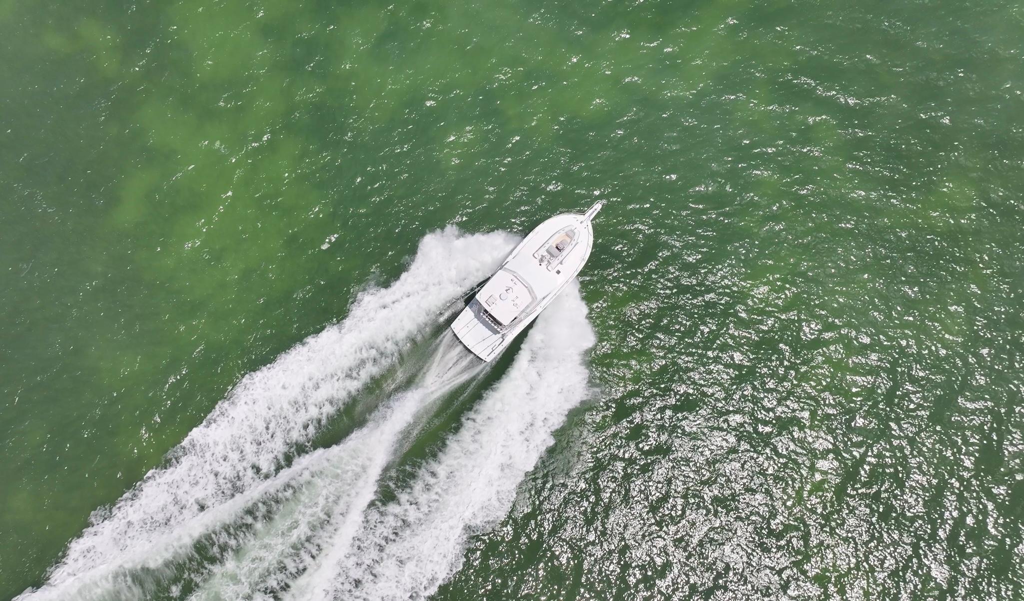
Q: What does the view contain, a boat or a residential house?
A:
boat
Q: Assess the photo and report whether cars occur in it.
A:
No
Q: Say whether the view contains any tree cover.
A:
No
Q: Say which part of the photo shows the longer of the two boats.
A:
center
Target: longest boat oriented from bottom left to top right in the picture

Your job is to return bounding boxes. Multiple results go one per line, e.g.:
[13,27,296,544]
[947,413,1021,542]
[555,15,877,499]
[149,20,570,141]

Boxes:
[423,199,606,364]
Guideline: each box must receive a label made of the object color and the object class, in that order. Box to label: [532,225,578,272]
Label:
white boat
